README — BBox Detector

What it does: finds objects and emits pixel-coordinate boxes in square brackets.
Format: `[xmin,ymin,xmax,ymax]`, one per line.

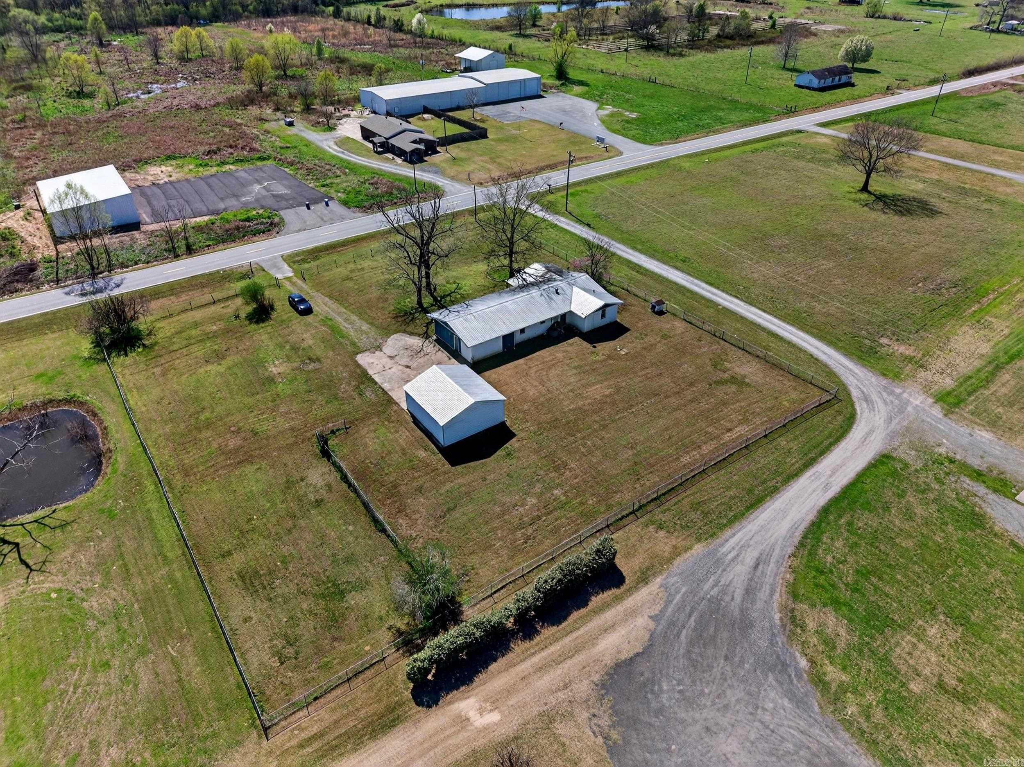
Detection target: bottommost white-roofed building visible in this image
[401,365,509,447]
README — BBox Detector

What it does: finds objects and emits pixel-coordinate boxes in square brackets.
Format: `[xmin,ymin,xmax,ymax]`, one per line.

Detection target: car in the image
[287,296,313,316]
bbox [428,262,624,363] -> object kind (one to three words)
house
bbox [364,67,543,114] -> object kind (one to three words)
building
